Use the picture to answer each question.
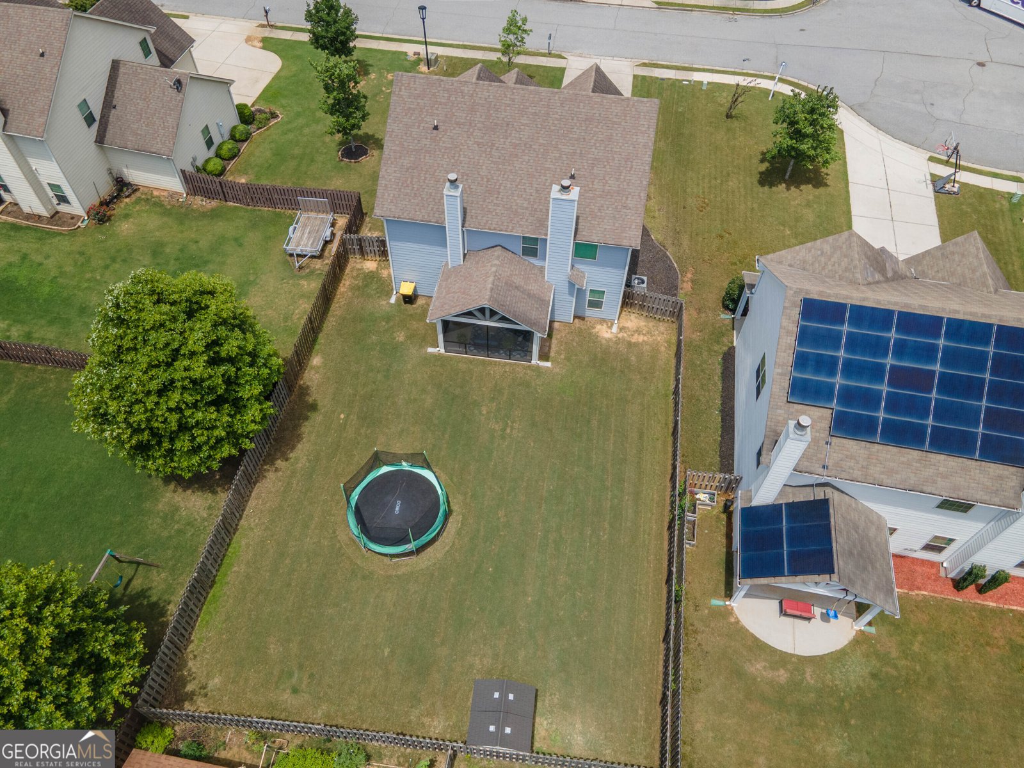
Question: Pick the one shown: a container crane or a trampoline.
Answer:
trampoline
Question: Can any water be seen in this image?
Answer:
No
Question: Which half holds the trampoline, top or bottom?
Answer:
bottom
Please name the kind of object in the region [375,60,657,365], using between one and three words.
house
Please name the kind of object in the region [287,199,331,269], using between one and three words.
trailer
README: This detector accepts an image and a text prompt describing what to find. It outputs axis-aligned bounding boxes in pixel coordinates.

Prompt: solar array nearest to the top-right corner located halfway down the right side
[791,296,1024,465]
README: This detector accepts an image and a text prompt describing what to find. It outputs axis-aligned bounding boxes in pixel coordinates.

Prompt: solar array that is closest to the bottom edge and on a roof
[739,493,825,579]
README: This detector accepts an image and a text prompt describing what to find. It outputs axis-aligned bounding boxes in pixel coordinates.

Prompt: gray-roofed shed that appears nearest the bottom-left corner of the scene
[466,676,536,754]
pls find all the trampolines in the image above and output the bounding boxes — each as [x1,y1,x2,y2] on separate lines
[340,448,448,560]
